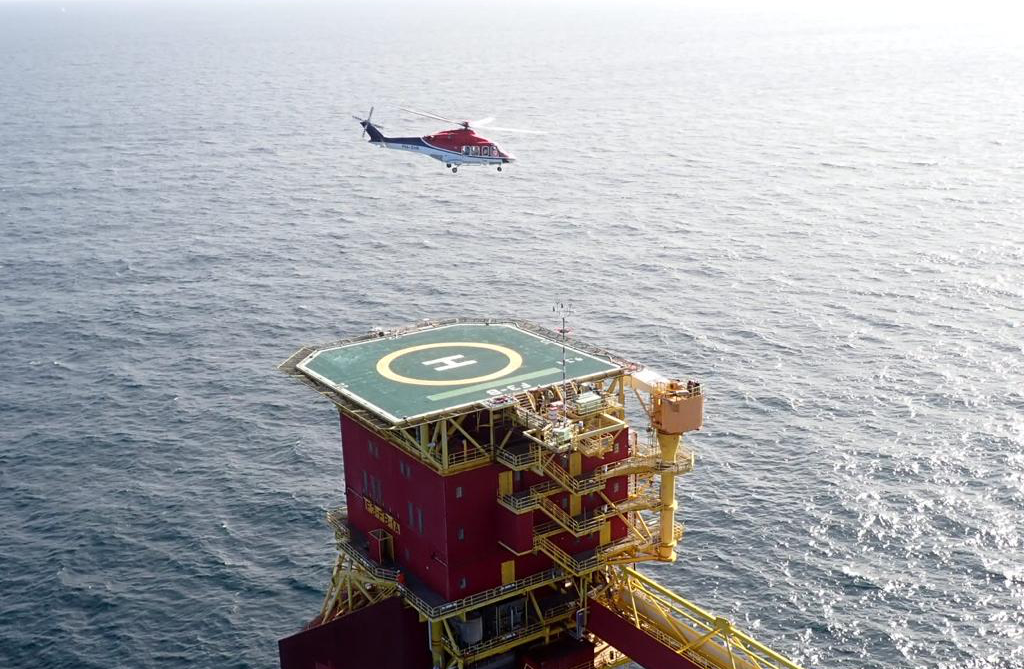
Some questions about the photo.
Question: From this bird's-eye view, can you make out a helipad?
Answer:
Yes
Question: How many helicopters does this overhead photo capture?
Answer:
1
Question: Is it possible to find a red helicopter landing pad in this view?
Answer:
No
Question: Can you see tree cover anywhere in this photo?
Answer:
No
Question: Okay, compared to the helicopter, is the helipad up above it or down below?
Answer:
below it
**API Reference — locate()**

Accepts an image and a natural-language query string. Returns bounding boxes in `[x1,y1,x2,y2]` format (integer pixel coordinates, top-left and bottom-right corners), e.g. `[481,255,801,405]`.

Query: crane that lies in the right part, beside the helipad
[585,343,706,569]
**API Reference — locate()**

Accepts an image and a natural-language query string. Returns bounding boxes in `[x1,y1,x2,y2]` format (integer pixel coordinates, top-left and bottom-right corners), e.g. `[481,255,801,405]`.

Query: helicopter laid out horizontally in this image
[354,106,544,173]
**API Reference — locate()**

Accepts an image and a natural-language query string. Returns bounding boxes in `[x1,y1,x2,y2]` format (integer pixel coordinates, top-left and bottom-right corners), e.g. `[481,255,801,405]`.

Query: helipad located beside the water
[278,317,631,469]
